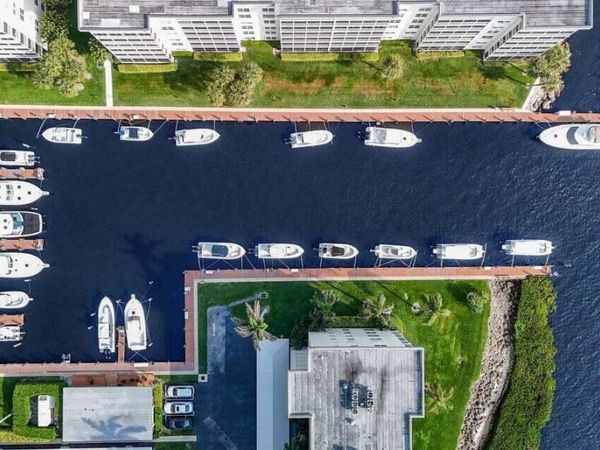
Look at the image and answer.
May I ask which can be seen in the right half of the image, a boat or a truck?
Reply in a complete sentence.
There is a boat in the right half of the image.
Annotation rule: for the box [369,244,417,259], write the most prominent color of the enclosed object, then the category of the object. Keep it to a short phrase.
white boat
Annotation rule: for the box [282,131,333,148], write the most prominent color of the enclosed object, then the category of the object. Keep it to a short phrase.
white boat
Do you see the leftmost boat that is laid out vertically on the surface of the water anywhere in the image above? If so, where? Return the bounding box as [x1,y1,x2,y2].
[98,296,115,361]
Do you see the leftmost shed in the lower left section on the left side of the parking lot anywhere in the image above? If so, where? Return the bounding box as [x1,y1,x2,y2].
[38,395,56,427]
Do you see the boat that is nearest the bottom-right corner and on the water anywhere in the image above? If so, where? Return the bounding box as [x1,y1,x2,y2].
[496,240,555,255]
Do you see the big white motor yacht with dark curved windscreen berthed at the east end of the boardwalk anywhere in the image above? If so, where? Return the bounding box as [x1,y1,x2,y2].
[538,123,600,151]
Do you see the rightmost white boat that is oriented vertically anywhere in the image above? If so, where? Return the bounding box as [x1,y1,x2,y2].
[123,294,147,353]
